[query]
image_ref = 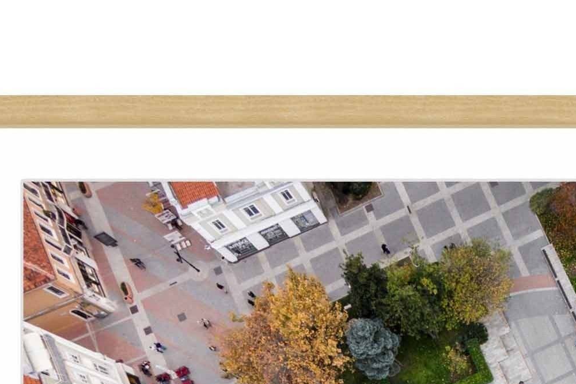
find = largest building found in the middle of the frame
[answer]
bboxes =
[153,181,327,265]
